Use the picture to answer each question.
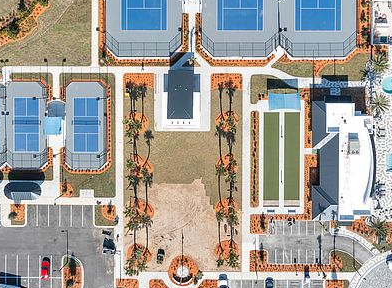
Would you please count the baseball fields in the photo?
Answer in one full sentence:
The photo contains no baseball fields.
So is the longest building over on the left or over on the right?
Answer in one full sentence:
The longest building appears in the right half of the scene.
